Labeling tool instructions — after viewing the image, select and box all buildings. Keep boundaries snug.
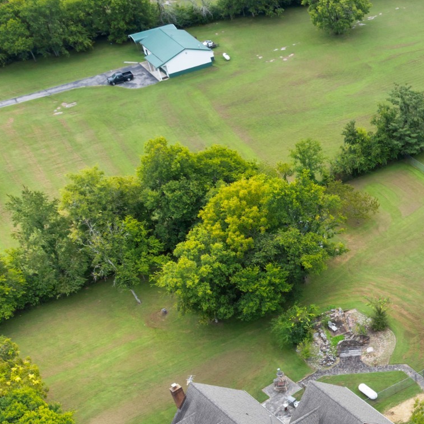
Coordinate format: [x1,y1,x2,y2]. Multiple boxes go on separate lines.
[167,375,390,424]
[137,27,213,80]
